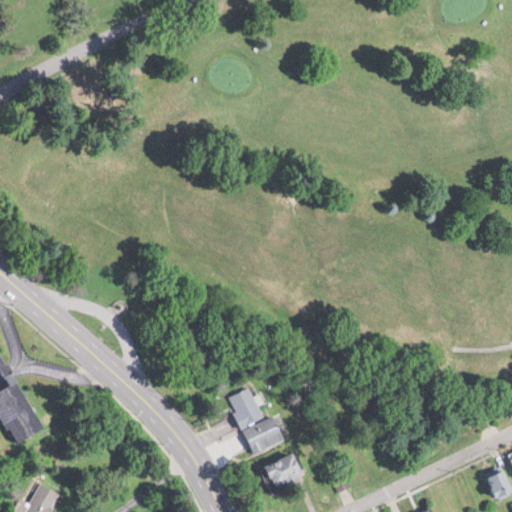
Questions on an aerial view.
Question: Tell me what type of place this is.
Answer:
golf course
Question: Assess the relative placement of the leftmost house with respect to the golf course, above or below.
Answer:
below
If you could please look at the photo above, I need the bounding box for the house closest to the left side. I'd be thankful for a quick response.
[0,386,40,442]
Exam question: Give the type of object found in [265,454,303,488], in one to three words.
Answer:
house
